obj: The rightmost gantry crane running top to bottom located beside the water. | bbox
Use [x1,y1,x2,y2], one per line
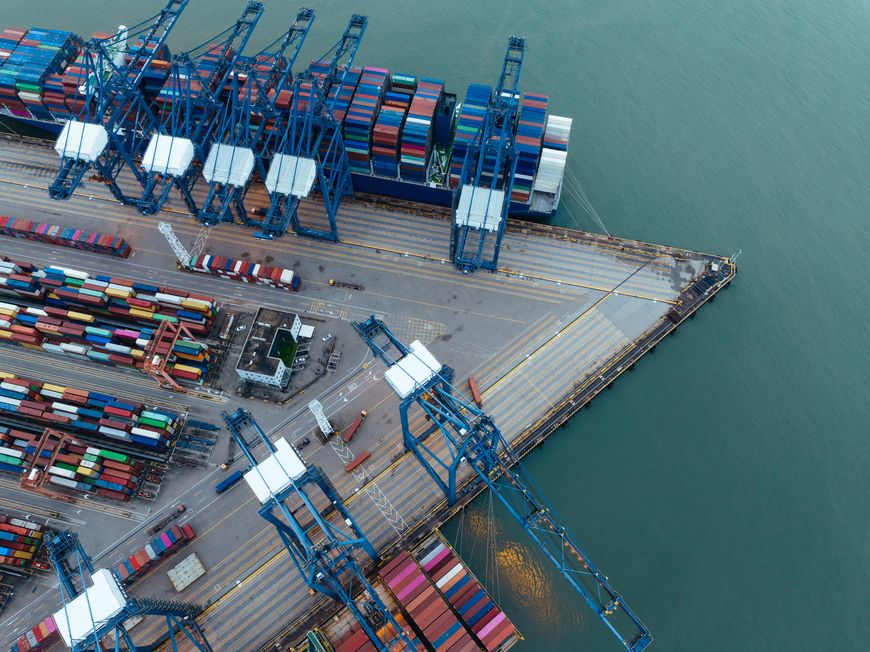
[443,36,527,296]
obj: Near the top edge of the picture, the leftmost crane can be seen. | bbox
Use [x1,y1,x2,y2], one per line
[28,0,188,219]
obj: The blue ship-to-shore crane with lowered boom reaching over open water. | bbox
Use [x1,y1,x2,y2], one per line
[342,297,655,652]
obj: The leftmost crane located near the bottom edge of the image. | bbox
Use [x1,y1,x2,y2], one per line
[29,500,206,652]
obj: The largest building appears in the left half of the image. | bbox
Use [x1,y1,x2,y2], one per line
[236,307,300,392]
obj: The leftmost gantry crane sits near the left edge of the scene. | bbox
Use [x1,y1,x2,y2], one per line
[15,426,100,502]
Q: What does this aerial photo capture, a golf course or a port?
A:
port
